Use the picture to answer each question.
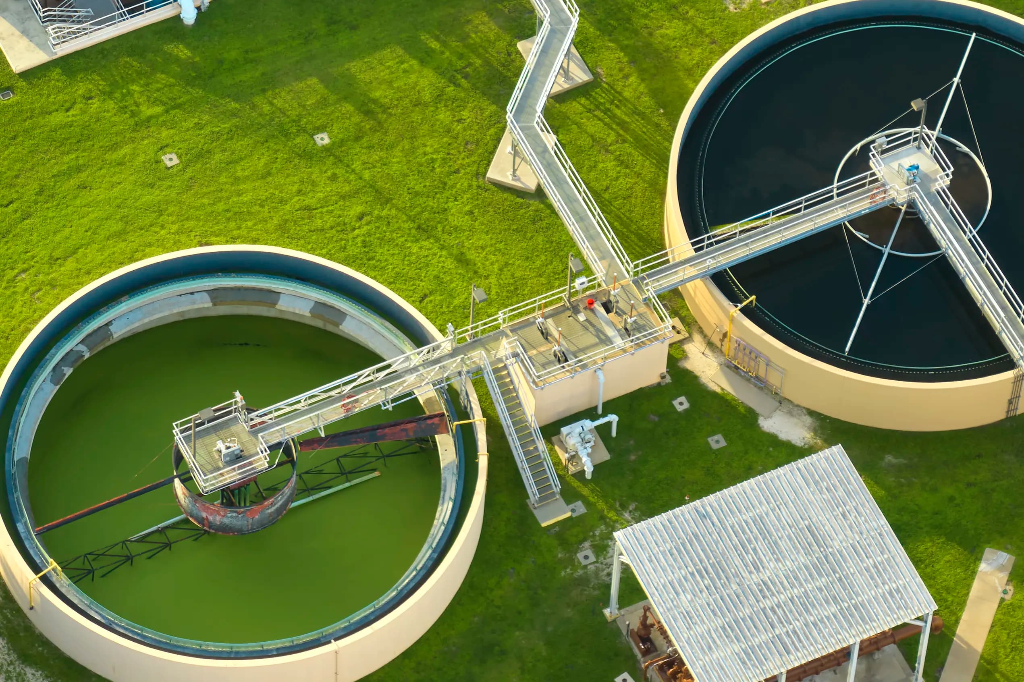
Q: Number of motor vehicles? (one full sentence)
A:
The picture shows no motor vehicles.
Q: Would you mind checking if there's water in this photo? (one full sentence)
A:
Yes, there's water in this view.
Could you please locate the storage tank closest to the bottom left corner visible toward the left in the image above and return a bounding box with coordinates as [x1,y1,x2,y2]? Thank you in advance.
[0,243,487,682]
